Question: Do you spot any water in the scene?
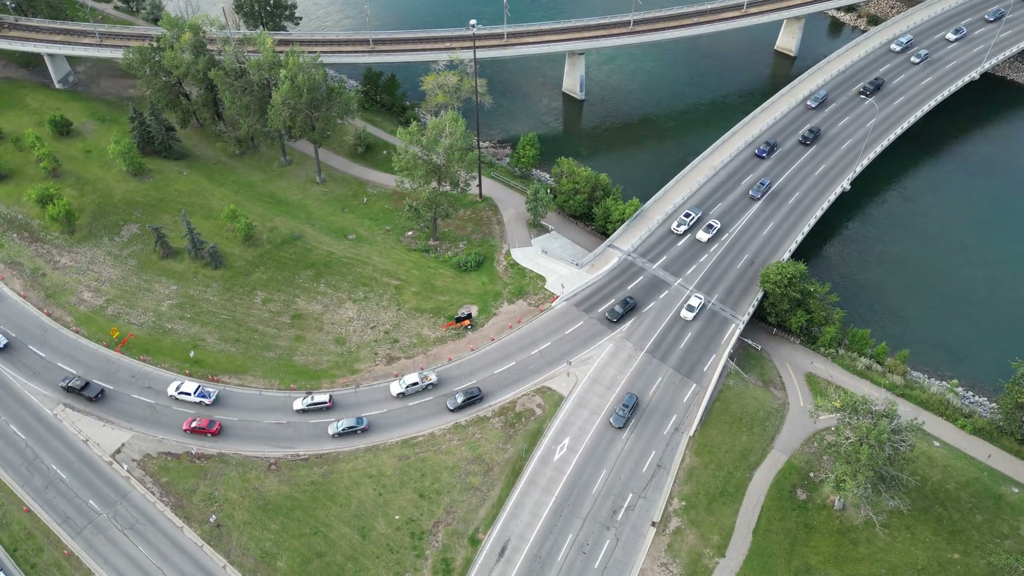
Yes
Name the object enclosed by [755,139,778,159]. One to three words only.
car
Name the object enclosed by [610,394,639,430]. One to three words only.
car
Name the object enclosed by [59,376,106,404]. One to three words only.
truck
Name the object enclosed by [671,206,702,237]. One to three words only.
truck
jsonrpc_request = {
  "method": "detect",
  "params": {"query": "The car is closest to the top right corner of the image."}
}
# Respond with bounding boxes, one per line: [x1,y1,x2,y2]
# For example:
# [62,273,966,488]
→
[983,6,1007,23]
